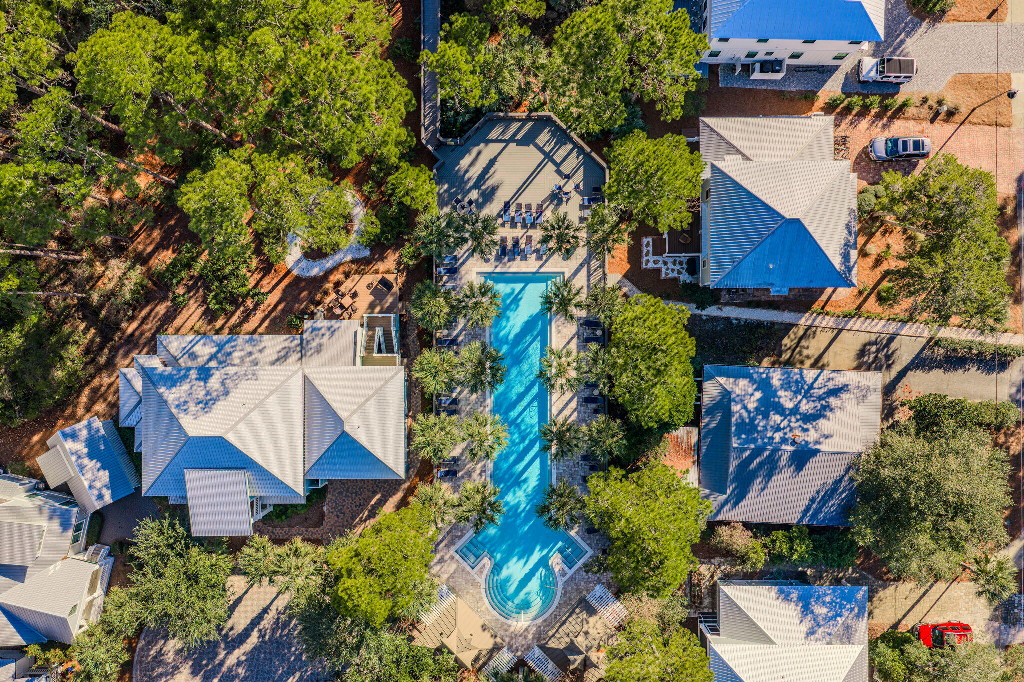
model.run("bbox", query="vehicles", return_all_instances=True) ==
[867,135,934,165]
[913,615,979,649]
[857,56,921,88]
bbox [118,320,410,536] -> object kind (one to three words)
building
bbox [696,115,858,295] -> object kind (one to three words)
house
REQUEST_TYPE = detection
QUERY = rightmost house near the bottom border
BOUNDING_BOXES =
[689,567,870,682]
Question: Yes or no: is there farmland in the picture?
No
